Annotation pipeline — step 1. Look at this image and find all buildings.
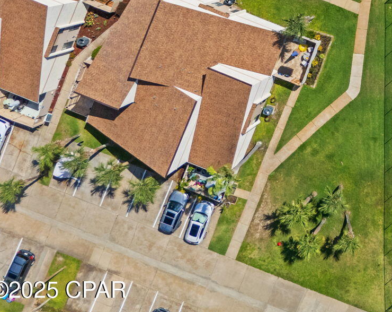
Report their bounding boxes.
[0,0,120,131]
[61,0,319,202]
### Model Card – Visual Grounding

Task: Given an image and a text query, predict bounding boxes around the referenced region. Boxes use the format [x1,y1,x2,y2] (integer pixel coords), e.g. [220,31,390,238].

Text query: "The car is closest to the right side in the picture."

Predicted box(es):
[179,202,211,250]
